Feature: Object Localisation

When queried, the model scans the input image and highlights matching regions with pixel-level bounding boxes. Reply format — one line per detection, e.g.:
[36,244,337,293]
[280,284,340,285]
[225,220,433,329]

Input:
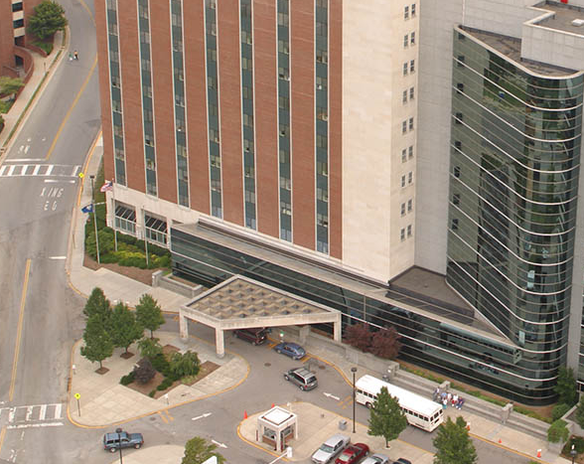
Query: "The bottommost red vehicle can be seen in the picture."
[338,440,368,464]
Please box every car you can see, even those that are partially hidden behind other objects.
[231,326,264,343]
[338,440,368,464]
[284,365,316,385]
[390,456,410,464]
[274,341,306,357]
[104,426,142,446]
[315,432,347,457]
